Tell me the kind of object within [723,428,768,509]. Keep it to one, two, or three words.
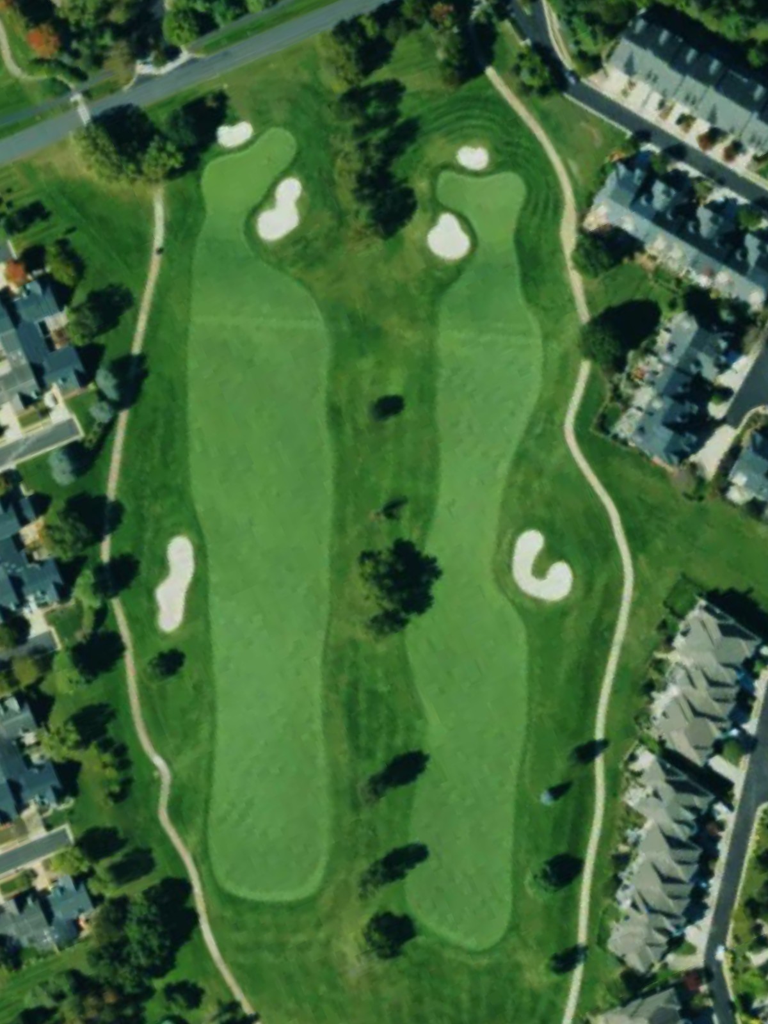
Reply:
house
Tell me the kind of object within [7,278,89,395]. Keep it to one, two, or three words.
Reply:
house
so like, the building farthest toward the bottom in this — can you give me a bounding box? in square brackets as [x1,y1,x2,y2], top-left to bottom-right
[596,984,688,1024]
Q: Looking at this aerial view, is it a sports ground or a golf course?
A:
golf course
